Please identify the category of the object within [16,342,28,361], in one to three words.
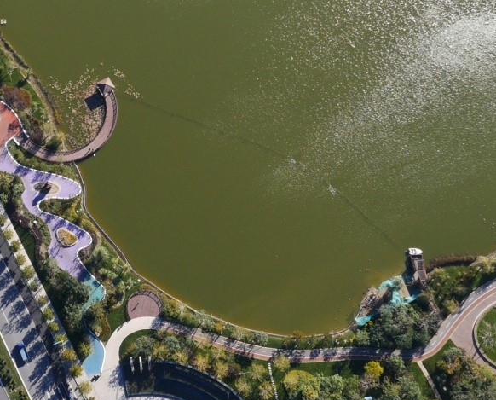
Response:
vehicle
